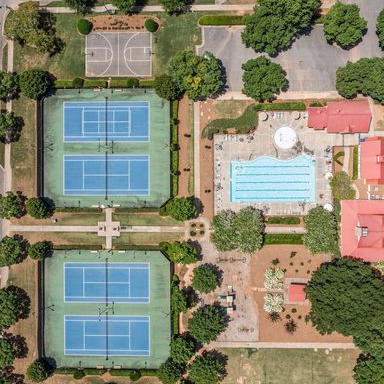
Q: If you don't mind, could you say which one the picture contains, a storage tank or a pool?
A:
pool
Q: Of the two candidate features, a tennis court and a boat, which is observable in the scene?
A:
tennis court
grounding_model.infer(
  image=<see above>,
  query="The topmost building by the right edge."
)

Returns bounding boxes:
[306,101,371,135]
